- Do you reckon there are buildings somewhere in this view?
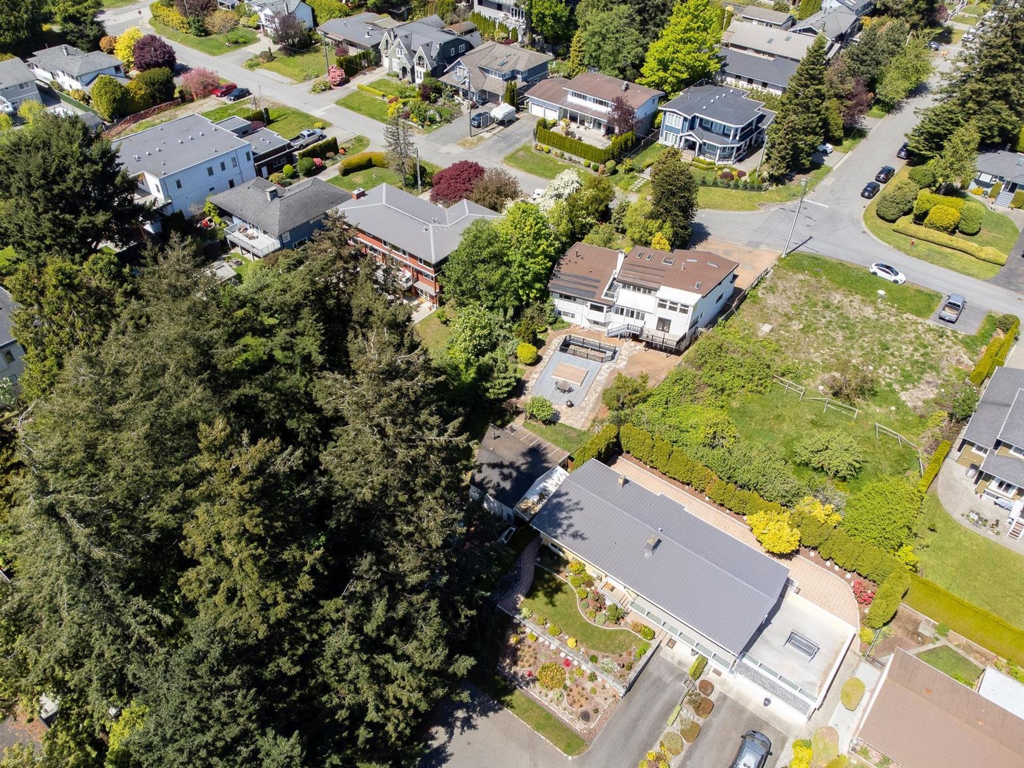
Yes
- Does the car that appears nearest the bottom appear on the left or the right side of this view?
right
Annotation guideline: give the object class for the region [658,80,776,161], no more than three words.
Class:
house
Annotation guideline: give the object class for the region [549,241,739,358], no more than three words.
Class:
house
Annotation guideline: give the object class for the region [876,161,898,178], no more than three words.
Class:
car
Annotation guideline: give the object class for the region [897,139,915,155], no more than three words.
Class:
car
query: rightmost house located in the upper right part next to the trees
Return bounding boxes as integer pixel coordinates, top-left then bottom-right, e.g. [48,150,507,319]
[970,147,1024,209]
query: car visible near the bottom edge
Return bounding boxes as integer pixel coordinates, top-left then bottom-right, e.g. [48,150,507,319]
[728,727,770,768]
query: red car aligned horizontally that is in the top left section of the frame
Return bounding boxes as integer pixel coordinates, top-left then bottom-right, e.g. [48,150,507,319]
[211,80,236,93]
